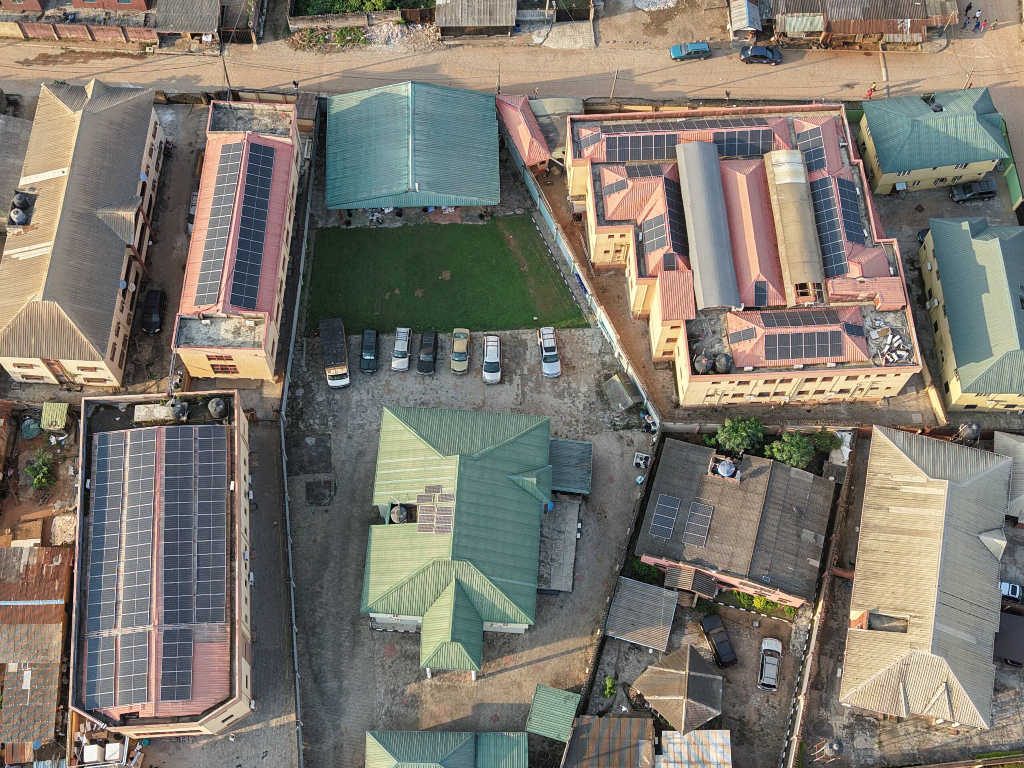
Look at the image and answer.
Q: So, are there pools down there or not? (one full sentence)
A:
No, there is no pool in the image.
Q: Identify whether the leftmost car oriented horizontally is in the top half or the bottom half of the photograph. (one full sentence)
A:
The leftmost car oriented horizontally is in the top half of the image.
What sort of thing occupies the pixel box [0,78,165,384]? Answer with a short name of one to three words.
building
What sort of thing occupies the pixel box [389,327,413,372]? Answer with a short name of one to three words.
car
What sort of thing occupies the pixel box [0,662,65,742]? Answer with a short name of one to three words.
shed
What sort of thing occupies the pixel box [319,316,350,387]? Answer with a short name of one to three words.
truck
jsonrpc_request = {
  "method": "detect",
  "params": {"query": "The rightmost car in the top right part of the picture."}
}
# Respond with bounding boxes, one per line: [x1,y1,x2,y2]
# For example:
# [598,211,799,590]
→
[948,178,999,205]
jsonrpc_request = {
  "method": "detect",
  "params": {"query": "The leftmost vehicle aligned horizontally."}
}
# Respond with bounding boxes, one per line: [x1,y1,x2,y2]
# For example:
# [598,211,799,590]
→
[669,41,712,62]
